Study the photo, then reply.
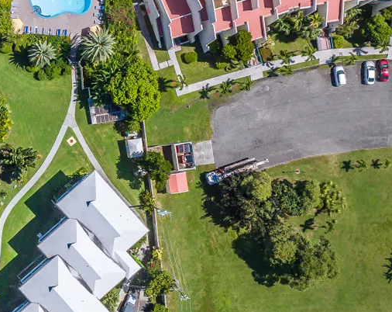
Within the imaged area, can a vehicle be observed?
Yes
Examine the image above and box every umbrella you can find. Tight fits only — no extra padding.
[11,19,24,32]
[88,23,102,36]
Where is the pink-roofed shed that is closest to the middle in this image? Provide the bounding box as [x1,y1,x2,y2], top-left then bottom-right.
[166,172,188,194]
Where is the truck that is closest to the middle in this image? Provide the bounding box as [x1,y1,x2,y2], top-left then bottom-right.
[204,153,273,181]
